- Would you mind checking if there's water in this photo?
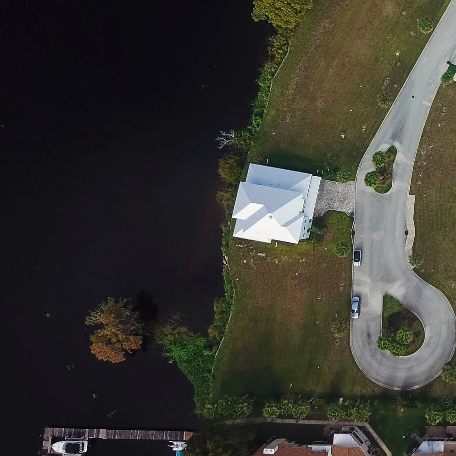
Yes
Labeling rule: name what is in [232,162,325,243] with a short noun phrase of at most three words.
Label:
house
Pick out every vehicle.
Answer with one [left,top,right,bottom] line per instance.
[351,296,361,318]
[354,248,363,268]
